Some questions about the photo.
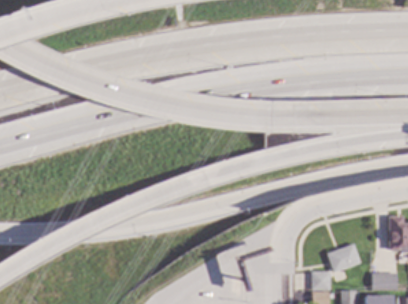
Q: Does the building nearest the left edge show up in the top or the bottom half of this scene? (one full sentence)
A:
It is in the bottom half that the building nearest the left edge appears.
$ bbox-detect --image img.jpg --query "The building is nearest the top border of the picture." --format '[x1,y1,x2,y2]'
[386,216,408,251]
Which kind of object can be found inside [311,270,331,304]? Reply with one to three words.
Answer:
building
